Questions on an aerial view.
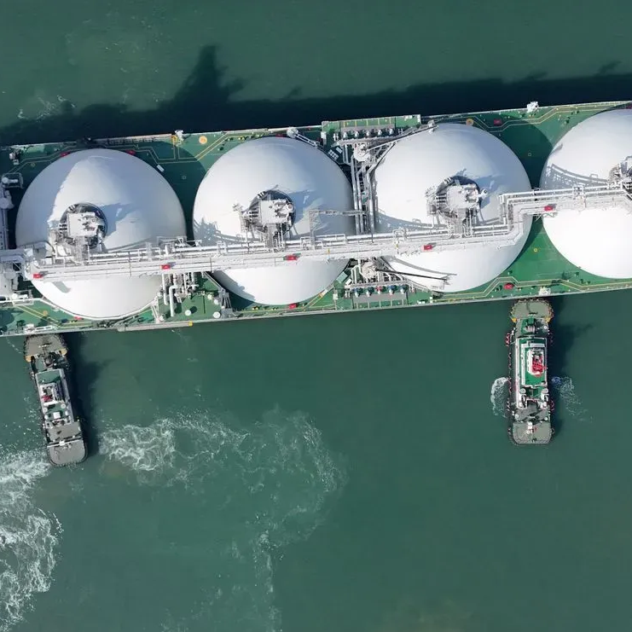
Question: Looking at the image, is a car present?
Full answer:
No, I can't see a single car in this photo.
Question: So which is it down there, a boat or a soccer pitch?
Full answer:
Visible in the photo is a boat.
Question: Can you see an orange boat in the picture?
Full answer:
No, I can see no orange boat in this picture.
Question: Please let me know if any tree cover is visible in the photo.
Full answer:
No, there is no tree cover in the image.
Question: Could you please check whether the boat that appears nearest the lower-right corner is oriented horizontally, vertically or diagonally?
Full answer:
What the image shows is the boat that appears nearest the lower-right corner lying vertically.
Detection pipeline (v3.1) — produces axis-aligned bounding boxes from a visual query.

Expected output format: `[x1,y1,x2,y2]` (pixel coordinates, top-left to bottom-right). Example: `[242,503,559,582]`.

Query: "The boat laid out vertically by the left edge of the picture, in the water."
[21,332,90,467]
